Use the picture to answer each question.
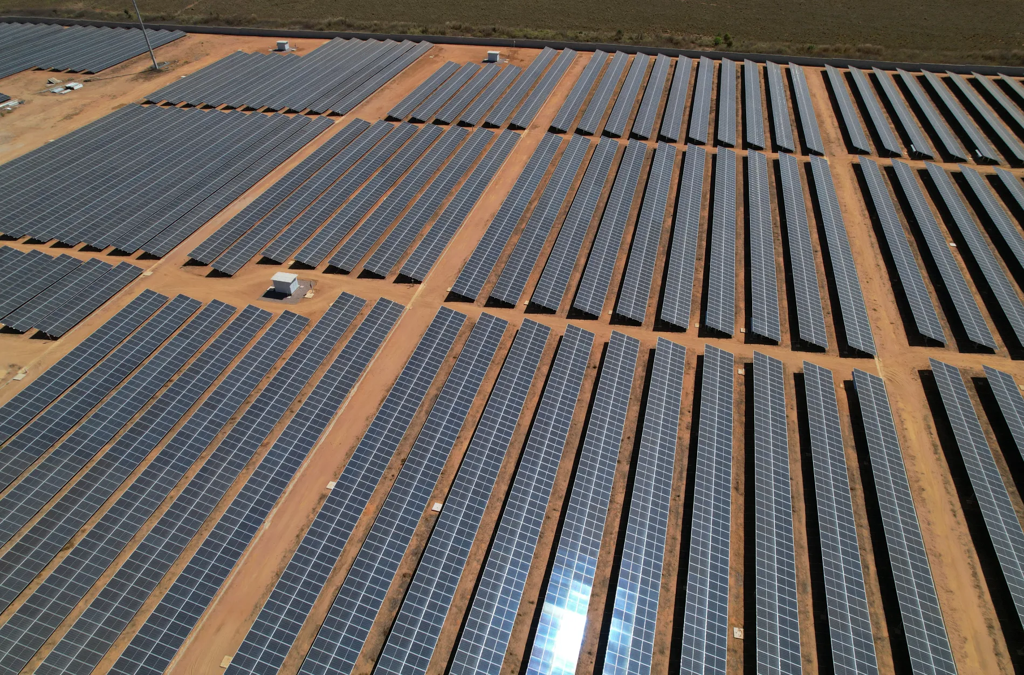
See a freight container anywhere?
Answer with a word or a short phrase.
No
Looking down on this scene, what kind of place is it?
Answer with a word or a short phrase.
solar farm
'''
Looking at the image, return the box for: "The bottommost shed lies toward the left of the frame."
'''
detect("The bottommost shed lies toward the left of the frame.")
[269,271,300,296]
